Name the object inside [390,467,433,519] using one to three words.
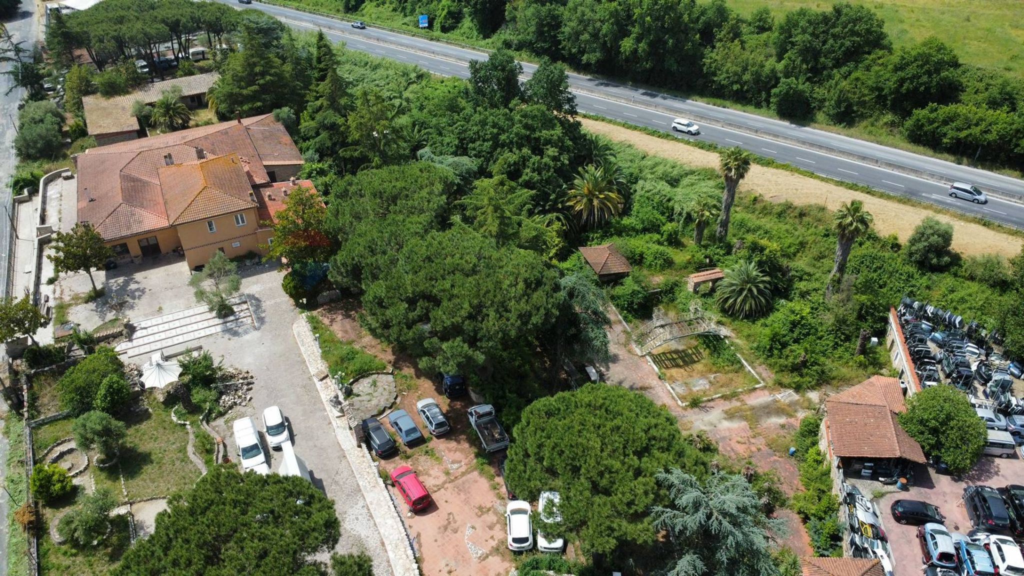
car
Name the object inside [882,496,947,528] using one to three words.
car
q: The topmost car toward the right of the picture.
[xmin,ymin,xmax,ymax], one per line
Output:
[671,118,699,135]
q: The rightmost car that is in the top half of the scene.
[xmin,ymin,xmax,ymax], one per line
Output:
[947,182,987,204]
